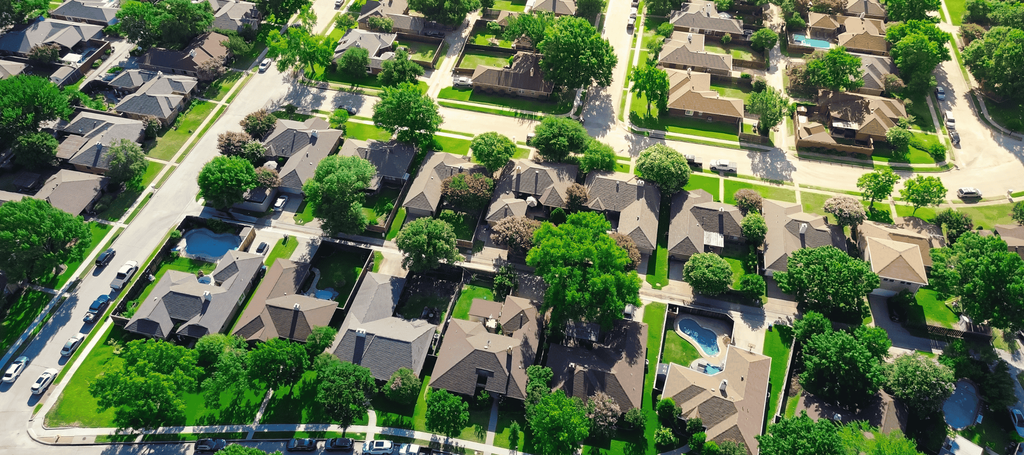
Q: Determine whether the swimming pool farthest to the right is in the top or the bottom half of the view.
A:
bottom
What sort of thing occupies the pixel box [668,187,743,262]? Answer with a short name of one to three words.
house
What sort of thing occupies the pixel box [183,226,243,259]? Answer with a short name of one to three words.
swimming pool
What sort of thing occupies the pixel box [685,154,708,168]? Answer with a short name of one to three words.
vehicle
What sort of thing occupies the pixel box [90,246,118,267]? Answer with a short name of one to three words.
car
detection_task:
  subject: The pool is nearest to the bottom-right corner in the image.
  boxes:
[940,376,983,432]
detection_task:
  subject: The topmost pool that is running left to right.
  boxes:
[793,34,831,48]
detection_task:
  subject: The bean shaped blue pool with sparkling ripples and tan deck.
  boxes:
[675,315,723,359]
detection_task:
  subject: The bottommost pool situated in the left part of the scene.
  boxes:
[314,288,335,301]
